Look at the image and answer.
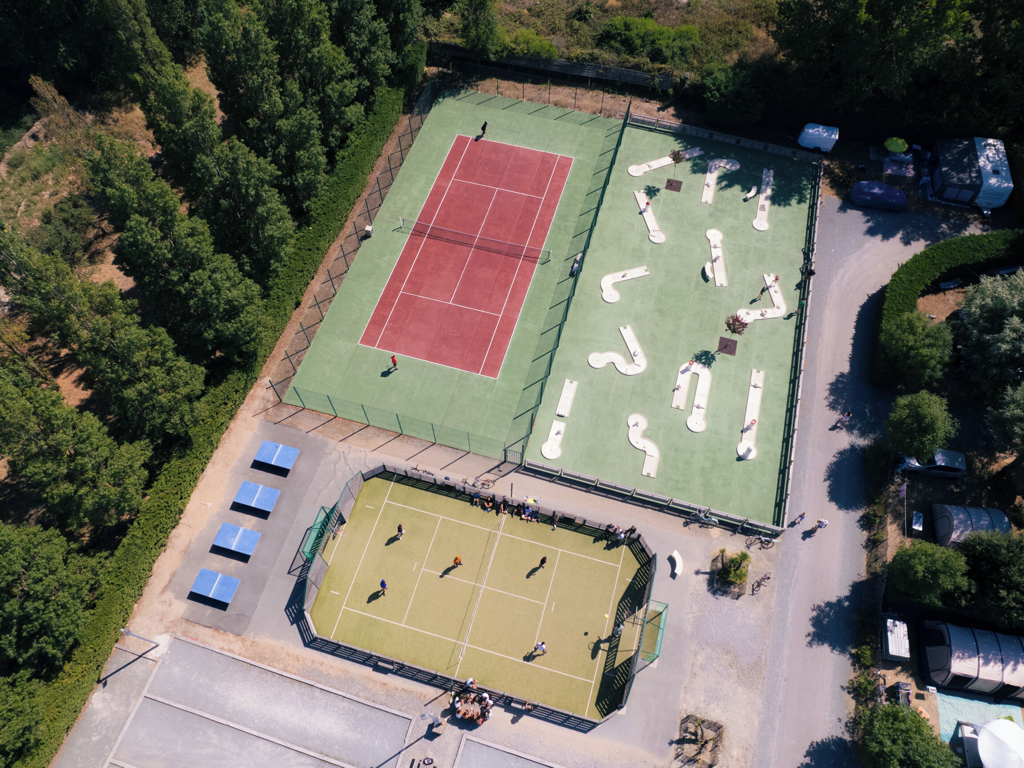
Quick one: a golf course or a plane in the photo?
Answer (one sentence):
Visible in the photo is a golf course.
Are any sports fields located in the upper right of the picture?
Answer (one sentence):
No, the scene shows no sports field in the upper right of the picture.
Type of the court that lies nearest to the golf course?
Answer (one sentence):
Looking closely, the court that lies nearest to the golf course is a tennis court.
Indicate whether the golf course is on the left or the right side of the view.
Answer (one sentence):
The golf course is on the right side of the image.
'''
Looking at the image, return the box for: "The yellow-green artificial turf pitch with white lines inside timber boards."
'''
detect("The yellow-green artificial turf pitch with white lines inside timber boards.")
[308,470,659,723]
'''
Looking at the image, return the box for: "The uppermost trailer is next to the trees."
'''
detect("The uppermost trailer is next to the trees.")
[787,124,839,152]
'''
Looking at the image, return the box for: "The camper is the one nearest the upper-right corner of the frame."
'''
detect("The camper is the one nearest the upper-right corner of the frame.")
[970,140,1011,218]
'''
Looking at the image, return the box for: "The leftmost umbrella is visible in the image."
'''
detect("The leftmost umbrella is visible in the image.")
[883,138,908,164]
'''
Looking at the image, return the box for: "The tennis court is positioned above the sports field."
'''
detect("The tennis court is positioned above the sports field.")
[282,88,623,465]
